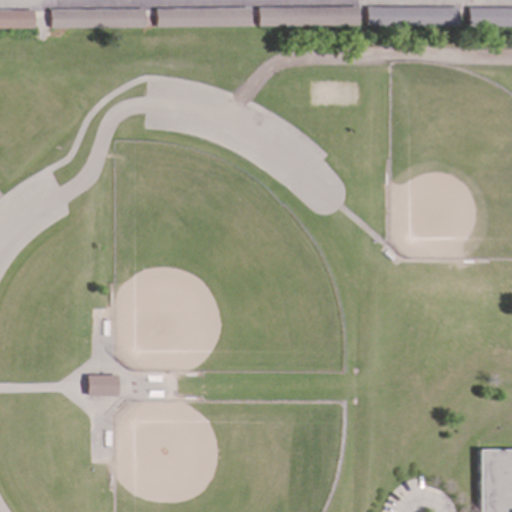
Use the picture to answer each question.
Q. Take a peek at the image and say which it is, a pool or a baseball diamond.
baseball diamond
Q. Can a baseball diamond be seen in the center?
Yes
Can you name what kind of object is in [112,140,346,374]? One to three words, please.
baseball field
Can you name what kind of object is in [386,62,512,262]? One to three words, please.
baseball field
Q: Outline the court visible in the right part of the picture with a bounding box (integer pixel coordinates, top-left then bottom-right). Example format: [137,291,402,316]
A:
[310,81,359,106]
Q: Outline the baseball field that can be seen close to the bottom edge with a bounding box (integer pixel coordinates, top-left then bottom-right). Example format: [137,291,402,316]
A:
[113,400,346,512]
